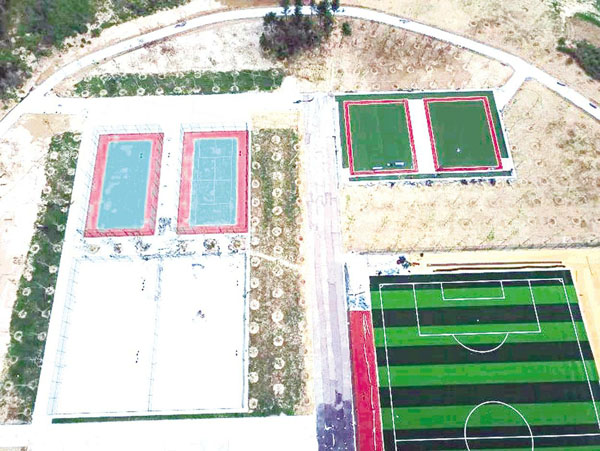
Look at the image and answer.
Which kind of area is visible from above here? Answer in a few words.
sports ground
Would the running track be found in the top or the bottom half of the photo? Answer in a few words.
bottom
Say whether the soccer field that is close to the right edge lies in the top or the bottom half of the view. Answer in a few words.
bottom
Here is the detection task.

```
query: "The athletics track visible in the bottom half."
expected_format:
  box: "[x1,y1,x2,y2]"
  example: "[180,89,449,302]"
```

[343,308,385,451]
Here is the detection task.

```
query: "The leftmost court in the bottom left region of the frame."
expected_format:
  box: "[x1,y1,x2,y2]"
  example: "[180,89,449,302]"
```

[51,257,158,415]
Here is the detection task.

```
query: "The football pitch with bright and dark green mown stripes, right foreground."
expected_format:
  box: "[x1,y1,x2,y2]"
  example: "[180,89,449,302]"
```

[369,269,600,451]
